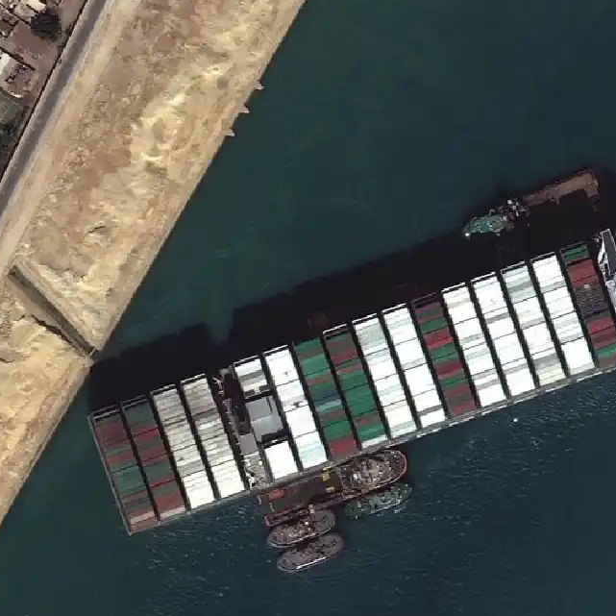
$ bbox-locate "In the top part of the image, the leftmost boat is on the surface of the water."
[462,198,521,239]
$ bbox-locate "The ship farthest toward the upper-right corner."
[524,169,605,238]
